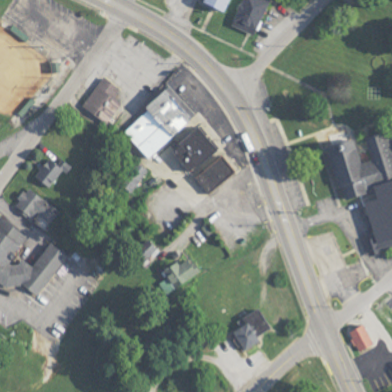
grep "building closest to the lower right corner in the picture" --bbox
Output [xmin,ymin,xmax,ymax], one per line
[350,326,374,353]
